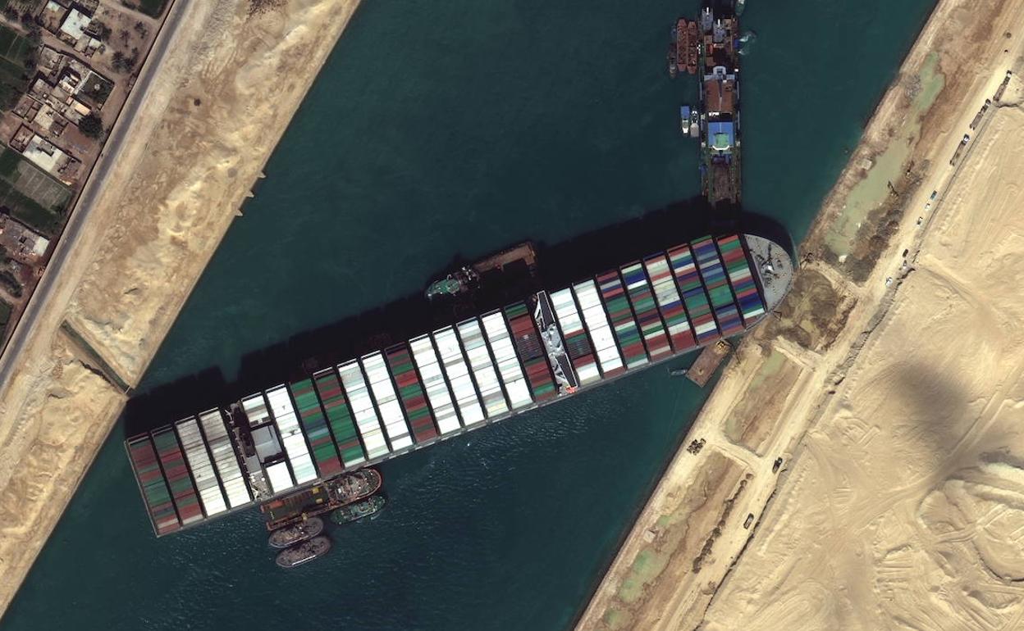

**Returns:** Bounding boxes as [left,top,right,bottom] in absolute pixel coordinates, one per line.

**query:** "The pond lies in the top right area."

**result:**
[826,53,947,254]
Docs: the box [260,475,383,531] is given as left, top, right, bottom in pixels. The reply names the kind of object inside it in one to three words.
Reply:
ship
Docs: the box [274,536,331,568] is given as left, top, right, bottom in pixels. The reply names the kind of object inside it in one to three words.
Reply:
boat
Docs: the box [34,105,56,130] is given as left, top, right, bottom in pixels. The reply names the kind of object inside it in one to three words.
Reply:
house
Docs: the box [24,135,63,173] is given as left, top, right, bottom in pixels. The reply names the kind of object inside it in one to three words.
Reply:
house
